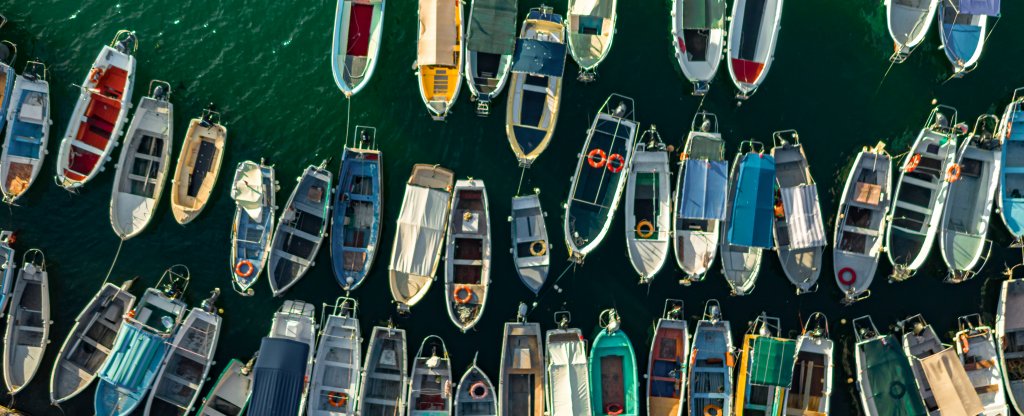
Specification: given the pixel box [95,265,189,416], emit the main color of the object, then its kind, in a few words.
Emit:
blue boat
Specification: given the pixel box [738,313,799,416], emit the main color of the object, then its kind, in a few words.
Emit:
green boat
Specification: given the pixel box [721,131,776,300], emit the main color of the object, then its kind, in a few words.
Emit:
blue boat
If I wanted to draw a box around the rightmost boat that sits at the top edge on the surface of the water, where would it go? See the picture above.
[935,0,1001,76]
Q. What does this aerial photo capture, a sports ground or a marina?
marina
